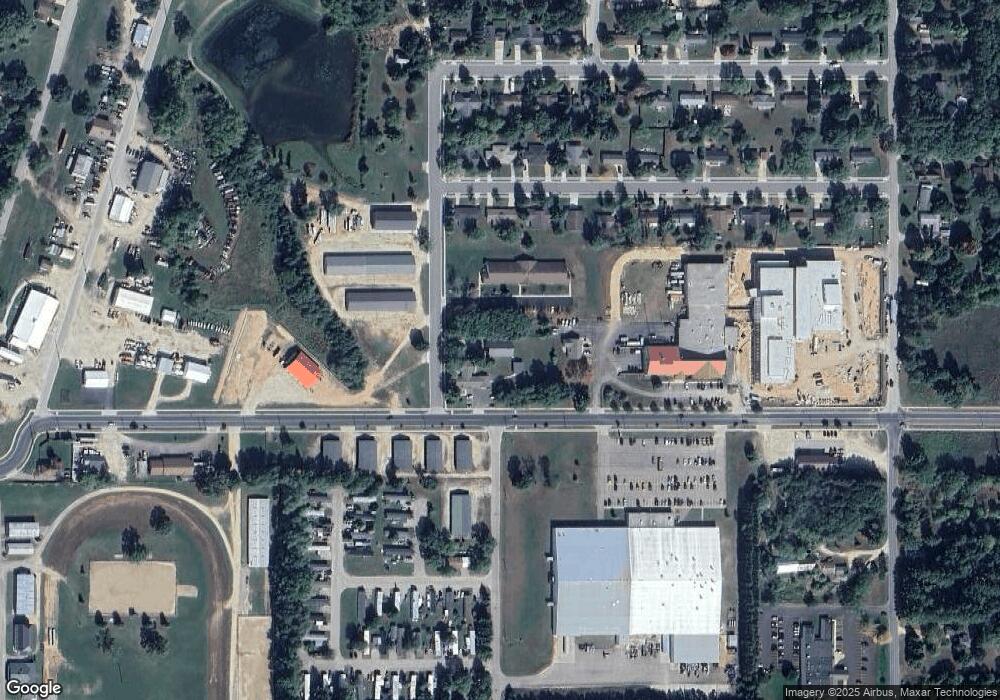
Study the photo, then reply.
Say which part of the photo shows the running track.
bottom left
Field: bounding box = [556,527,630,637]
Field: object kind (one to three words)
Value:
building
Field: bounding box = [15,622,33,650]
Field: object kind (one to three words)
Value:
shed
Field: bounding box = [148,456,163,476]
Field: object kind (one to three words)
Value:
house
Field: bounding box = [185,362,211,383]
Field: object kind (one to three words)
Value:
barn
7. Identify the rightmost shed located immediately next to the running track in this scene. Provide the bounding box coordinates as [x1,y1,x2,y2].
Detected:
[248,498,270,567]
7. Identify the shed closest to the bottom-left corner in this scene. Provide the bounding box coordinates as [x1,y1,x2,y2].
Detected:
[8,662,36,684]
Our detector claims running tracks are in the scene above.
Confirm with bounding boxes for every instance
[36,486,236,700]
